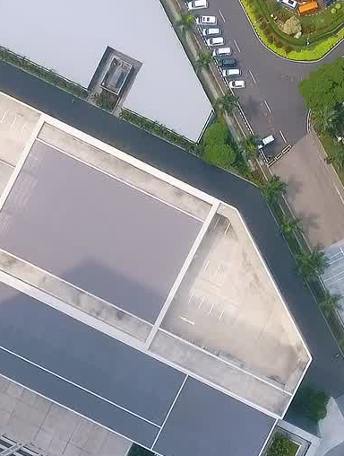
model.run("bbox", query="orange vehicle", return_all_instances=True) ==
[298,0,319,16]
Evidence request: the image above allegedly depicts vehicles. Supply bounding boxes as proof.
[220,57,238,67]
[198,15,216,26]
[204,27,221,37]
[230,81,245,90]
[224,68,241,77]
[298,0,319,16]
[259,134,276,148]
[208,37,224,47]
[189,0,207,10]
[214,47,232,57]
[278,0,298,10]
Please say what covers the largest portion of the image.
buildings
